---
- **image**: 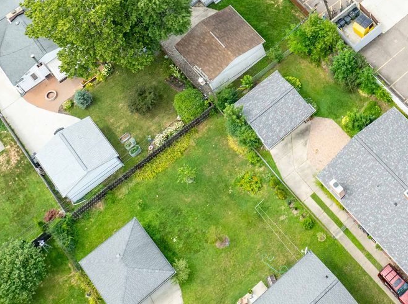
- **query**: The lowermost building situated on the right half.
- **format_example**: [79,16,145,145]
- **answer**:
[259,250,364,304]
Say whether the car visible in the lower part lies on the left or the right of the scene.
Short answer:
right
